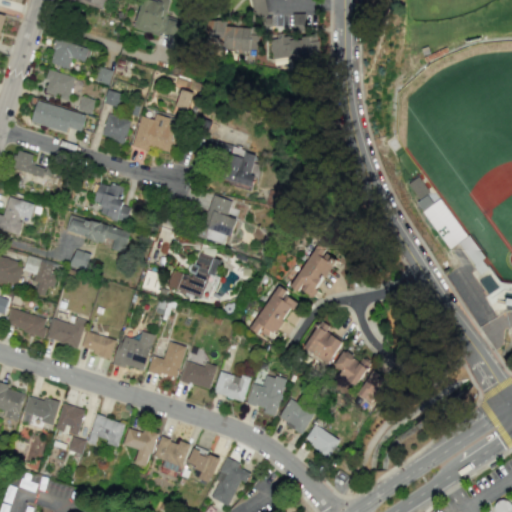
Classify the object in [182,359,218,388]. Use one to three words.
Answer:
house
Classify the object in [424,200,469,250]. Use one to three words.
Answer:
building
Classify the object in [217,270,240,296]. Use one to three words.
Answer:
swimming pool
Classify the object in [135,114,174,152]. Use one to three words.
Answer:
house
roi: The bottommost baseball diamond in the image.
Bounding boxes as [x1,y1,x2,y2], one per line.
[397,43,512,284]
